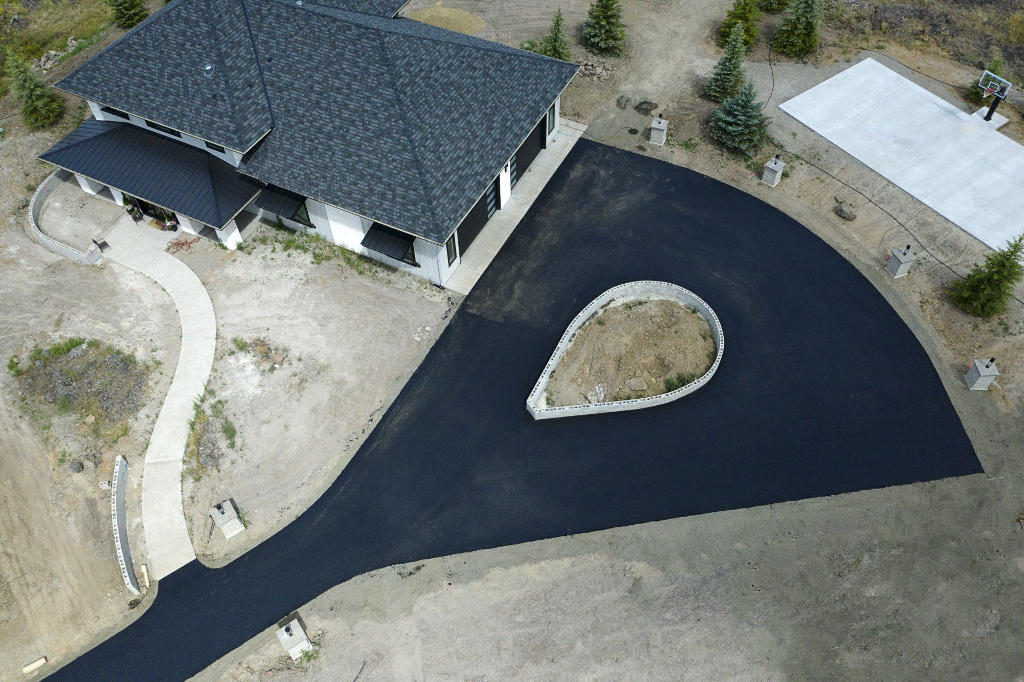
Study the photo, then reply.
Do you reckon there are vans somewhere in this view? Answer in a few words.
No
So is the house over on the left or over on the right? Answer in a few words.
left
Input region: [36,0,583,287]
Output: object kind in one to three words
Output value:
house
